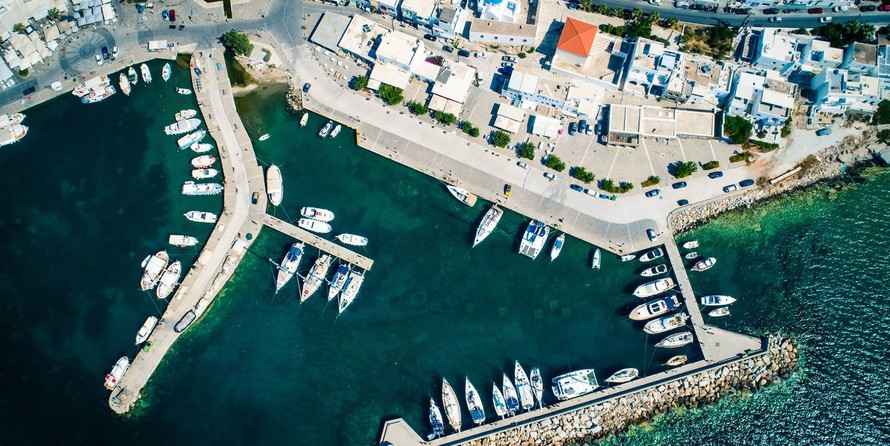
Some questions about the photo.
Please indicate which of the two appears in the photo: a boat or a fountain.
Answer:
boat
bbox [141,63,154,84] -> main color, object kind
white boat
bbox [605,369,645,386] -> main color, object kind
white boat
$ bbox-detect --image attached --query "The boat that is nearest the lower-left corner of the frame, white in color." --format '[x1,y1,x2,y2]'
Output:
[103,357,131,392]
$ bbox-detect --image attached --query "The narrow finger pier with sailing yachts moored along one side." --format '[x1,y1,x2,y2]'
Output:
[263,213,373,270]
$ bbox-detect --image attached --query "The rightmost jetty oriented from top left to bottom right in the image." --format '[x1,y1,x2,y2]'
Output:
[662,236,766,369]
